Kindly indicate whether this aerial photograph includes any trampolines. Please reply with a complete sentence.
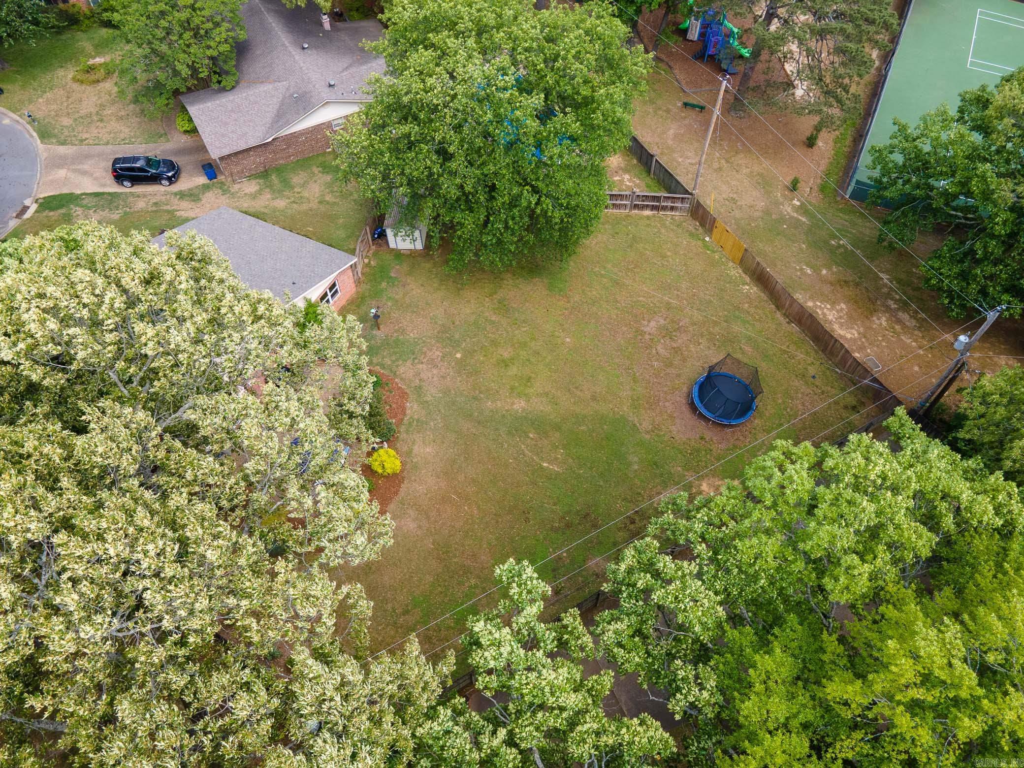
Yes, the picture does show a trampoline.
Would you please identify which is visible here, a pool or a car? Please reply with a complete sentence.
Of the two, only a car appears.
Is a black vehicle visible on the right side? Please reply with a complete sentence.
No, no black vehicle appears on the right side.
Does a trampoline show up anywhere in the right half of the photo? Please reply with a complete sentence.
Yes, looking in the right half of the photo, one can make out a trampoline.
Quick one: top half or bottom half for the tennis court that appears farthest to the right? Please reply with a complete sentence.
The tennis court that appears farthest to the right is in the top half of the image.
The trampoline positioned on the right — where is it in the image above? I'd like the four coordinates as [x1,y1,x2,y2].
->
[686,358,758,436]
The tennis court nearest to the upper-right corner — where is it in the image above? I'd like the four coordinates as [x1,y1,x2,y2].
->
[849,0,1024,205]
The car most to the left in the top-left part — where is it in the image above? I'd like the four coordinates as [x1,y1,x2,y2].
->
[110,155,183,189]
